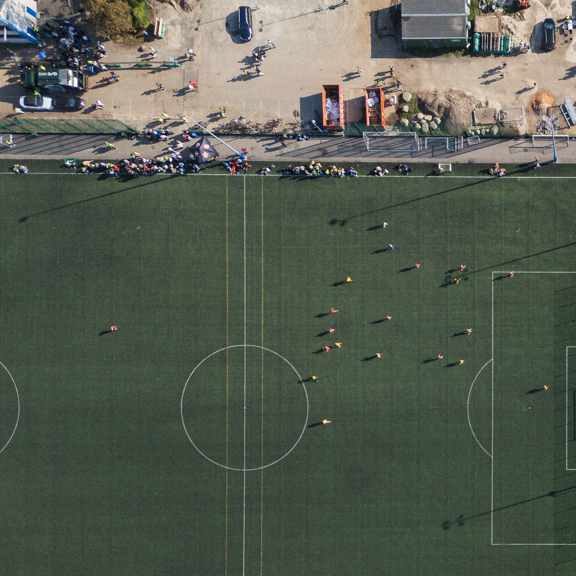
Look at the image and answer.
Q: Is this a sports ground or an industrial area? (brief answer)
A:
sports ground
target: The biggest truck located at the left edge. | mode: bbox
[20,66,88,93]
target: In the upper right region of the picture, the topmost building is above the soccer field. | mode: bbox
[400,0,469,49]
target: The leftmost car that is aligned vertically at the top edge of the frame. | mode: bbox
[238,7,255,43]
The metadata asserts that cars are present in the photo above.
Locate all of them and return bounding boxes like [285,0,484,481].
[50,96,83,112]
[238,7,255,43]
[542,18,558,51]
[17,95,50,112]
